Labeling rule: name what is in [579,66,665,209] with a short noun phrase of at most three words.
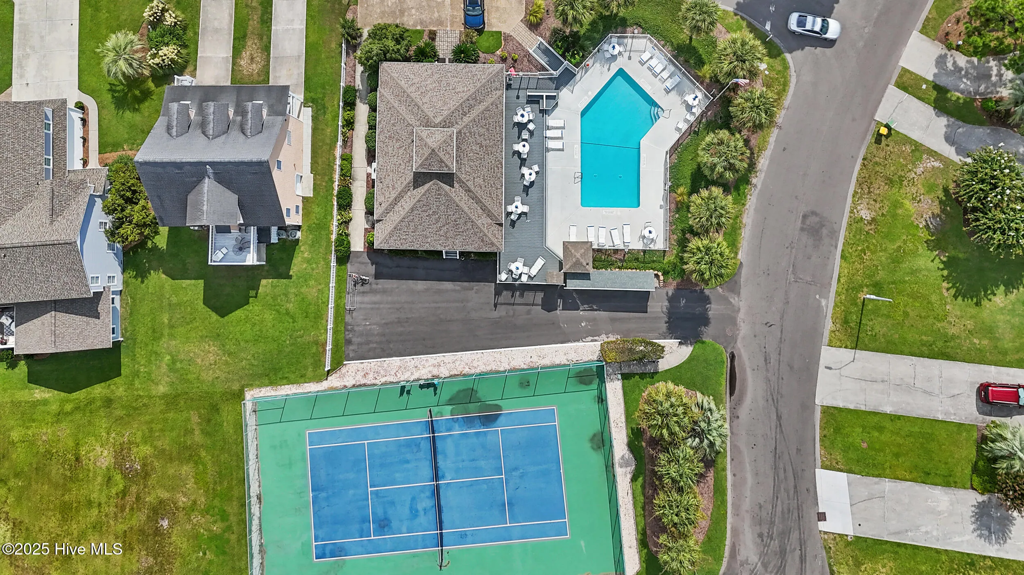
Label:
swimming pool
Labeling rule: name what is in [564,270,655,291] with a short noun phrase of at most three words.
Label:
shed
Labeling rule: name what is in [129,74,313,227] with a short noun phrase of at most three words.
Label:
house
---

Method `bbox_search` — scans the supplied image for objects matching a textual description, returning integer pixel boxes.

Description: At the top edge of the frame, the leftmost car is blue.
[463,0,486,29]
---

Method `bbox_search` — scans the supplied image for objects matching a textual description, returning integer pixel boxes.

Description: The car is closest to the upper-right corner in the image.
[786,14,840,42]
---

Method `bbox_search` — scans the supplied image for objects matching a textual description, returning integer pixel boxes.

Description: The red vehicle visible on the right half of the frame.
[976,382,1024,409]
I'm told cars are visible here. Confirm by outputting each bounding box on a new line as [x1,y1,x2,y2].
[463,0,486,29]
[976,382,1024,409]
[786,14,840,42]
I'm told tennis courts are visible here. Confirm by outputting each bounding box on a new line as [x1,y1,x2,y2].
[248,364,626,575]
